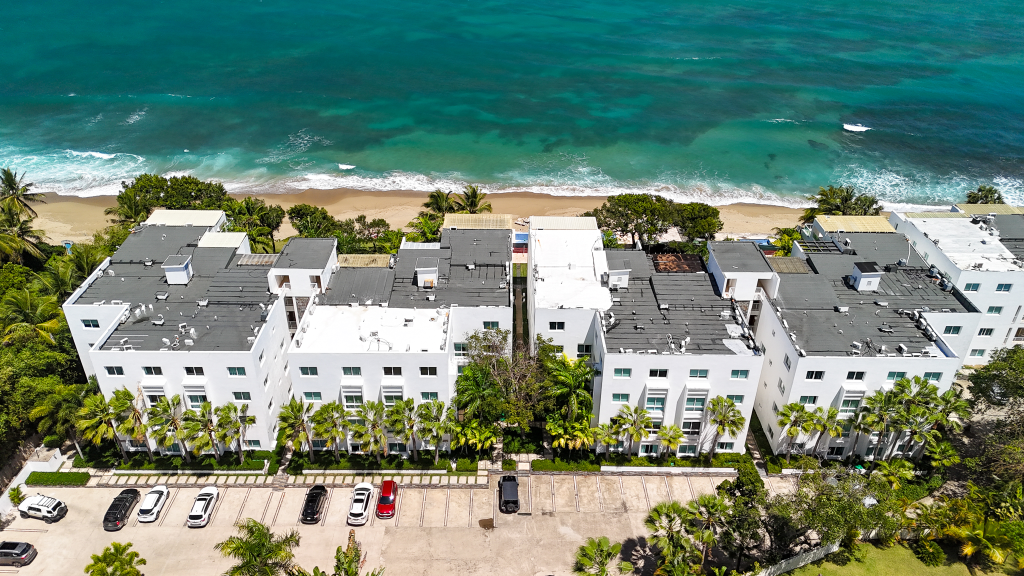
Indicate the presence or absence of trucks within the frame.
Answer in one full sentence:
No, I find no truck anywhere in the image.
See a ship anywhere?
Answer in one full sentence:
No, this view has no ship in it.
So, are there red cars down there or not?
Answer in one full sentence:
Yes, you can see a red car in this photo.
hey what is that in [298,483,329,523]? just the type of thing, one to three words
car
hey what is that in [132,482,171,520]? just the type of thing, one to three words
car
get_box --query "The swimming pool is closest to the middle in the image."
[515,229,529,243]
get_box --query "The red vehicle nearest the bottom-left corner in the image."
[373,478,399,518]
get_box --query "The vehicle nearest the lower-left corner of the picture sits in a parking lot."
[0,533,40,565]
